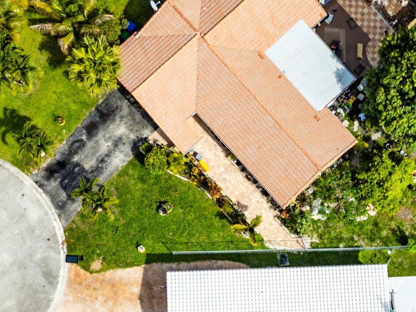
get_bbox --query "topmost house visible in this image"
[119,0,358,209]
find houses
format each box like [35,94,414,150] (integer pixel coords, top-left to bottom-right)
[167,264,390,312]
[119,0,358,209]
